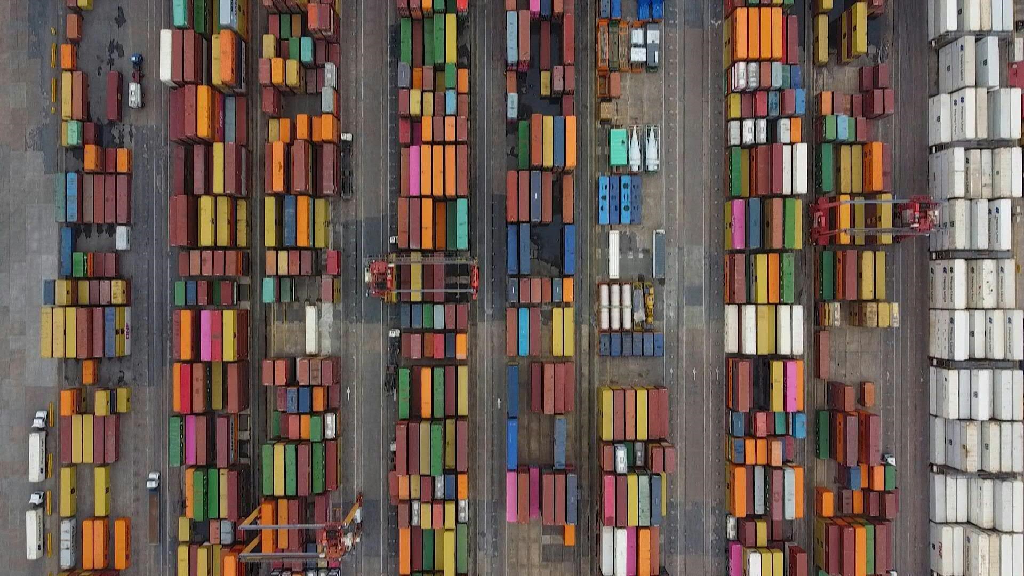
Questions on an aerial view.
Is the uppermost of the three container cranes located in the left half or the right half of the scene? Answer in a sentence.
You can find the uppermost of the three container cranes on the right side of the picture.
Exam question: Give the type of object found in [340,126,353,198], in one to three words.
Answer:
vehicle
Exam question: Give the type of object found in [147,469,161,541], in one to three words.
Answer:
vehicle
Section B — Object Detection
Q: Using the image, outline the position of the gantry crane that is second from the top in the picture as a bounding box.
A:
[367,255,482,300]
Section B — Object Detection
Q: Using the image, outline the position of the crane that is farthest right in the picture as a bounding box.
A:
[810,198,949,246]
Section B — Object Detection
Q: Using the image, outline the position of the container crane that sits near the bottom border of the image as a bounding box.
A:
[238,493,364,563]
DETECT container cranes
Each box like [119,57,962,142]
[810,198,949,246]
[367,255,482,300]
[238,493,364,563]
